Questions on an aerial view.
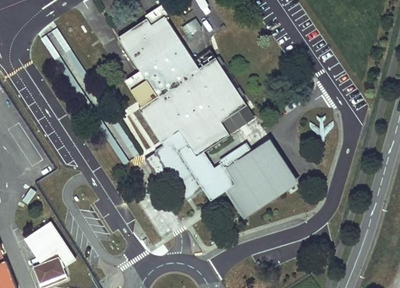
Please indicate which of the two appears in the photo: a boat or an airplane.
airplane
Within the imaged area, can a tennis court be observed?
No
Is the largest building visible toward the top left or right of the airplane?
to the left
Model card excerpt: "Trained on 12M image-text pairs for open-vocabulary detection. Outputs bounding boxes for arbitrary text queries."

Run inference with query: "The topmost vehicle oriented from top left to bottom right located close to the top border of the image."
[197,0,210,15]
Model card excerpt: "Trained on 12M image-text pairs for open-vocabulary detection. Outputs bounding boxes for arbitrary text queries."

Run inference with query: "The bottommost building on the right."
[218,139,298,218]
